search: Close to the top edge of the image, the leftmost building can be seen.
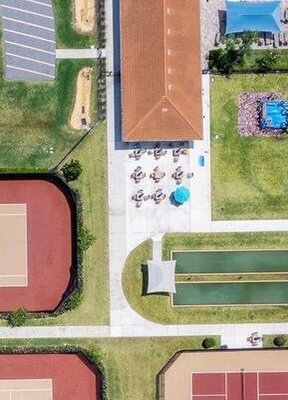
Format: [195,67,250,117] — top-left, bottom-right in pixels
[120,0,203,145]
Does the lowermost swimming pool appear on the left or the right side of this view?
right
